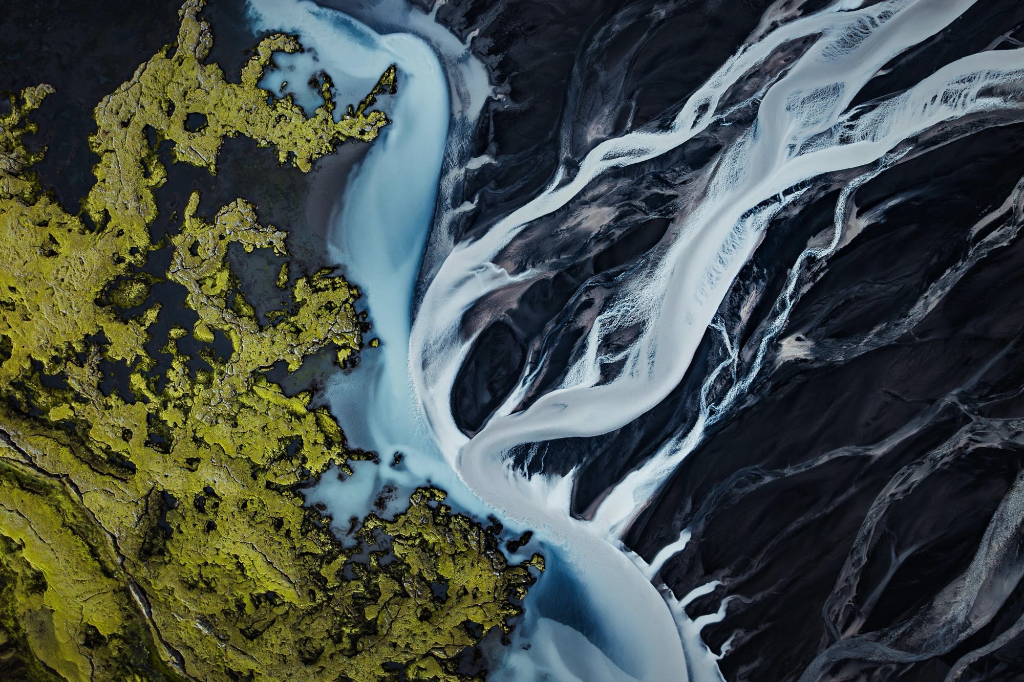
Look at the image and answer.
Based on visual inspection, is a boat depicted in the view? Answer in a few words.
No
